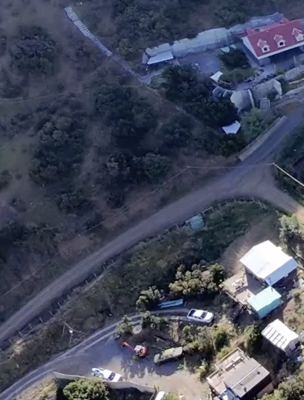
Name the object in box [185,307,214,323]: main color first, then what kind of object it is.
white vehicle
